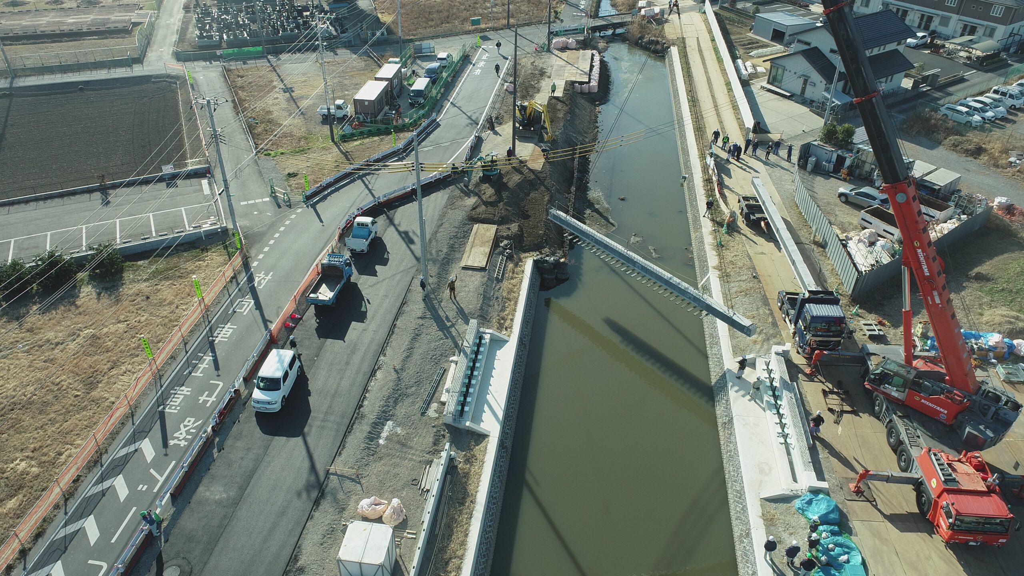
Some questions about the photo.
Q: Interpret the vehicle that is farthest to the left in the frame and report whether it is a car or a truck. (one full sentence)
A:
The vehicle that is farthest to the left in the image is a car.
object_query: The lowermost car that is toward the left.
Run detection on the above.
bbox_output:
[250,348,301,409]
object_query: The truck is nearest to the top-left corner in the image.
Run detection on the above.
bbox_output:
[319,98,354,119]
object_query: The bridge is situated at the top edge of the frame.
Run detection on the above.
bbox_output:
[591,2,666,35]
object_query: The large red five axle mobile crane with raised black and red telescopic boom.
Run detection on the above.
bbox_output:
[802,0,1024,558]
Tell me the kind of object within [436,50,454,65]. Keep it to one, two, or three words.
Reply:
car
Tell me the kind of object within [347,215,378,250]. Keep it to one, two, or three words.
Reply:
truck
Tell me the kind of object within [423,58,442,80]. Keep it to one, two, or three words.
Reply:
car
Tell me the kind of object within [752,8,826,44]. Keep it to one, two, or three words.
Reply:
shed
